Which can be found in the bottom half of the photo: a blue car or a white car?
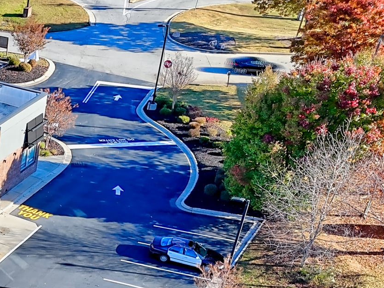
blue car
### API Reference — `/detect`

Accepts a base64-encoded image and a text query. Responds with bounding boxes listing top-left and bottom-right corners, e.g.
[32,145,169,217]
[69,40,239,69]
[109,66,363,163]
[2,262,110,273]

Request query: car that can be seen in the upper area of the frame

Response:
[229,56,271,75]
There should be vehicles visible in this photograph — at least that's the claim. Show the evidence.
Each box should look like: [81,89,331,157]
[150,234,227,271]
[229,56,271,75]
